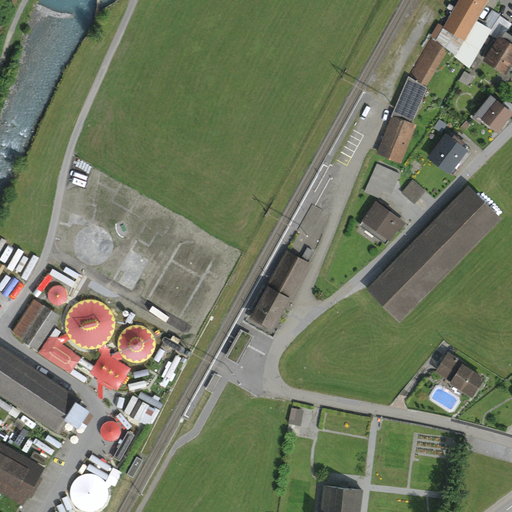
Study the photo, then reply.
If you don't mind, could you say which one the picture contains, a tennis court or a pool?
pool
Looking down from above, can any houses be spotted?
Yes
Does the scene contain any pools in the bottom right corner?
Yes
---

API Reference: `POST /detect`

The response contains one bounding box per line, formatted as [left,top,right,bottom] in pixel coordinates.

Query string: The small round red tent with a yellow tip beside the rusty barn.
[46,282,72,309]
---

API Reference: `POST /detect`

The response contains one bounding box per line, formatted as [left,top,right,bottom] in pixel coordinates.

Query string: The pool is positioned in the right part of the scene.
[427,384,460,412]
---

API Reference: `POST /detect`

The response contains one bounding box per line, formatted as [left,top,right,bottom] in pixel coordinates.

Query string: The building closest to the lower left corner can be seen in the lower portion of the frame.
[0,442,44,506]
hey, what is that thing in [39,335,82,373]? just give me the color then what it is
red tent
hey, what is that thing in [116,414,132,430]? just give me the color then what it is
white vehicle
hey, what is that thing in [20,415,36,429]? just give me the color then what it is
white camper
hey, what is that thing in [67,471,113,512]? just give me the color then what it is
white tent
